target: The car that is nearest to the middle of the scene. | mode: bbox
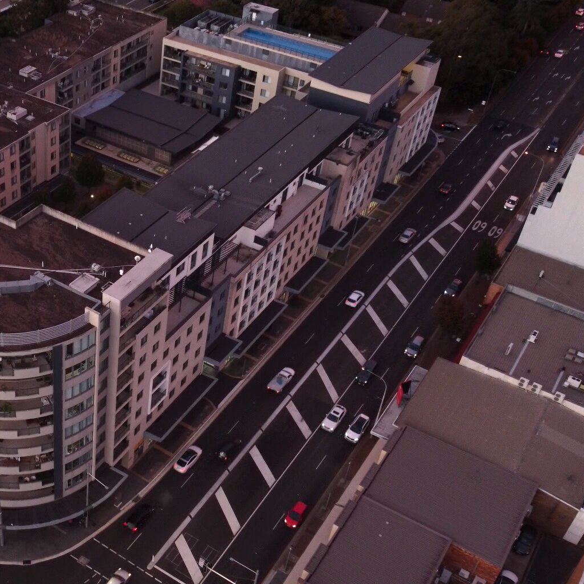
[344,290,366,310]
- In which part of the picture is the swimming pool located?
top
